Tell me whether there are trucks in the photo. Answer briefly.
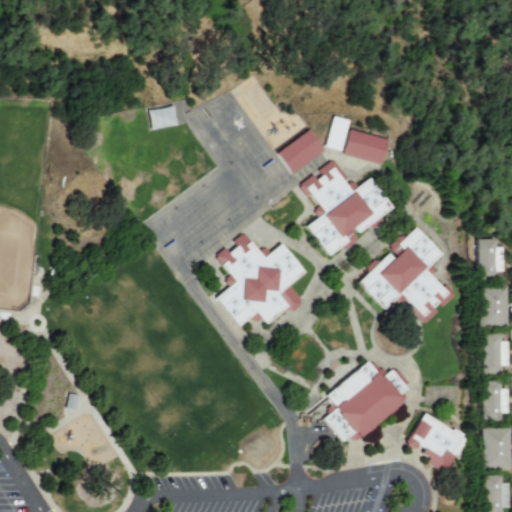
No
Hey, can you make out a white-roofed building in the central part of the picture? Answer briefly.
Yes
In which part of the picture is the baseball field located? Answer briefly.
left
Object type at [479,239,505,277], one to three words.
house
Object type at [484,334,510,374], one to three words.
house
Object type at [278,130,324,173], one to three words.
building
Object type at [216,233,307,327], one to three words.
building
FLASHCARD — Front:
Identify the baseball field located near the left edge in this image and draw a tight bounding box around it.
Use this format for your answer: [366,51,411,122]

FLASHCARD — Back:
[0,101,47,309]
